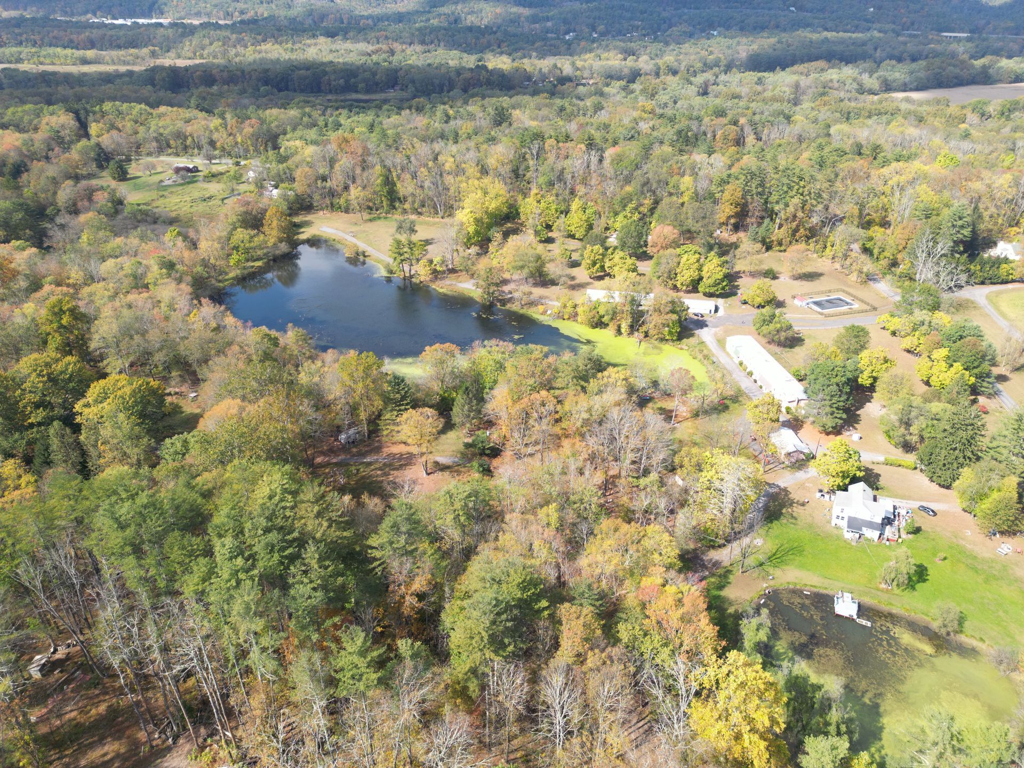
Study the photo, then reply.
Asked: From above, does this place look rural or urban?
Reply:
rural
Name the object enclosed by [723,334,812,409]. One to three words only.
building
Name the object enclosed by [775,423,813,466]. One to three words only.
barn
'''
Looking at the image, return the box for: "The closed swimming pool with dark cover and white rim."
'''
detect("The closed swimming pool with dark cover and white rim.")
[809,296,860,313]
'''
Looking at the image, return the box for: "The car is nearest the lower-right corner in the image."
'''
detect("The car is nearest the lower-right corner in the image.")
[918,503,939,515]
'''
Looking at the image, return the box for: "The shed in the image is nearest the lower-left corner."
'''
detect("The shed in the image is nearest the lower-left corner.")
[24,652,51,677]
